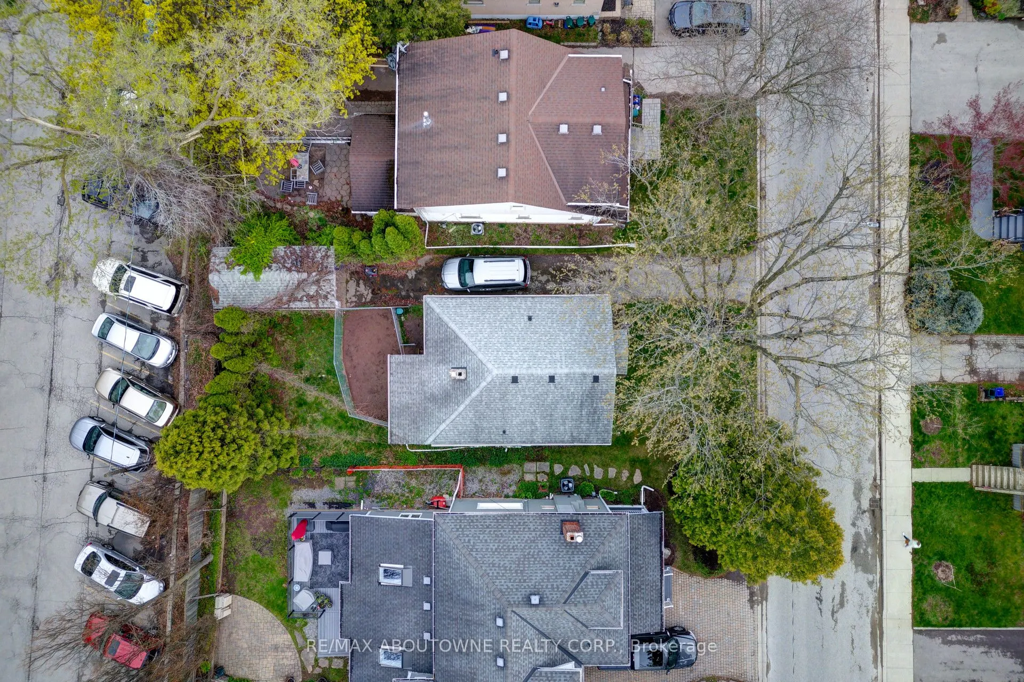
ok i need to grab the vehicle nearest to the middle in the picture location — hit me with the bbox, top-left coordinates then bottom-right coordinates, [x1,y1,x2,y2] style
[441,252,532,293]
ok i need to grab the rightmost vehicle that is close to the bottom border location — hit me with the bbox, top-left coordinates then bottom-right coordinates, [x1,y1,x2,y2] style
[627,626,697,673]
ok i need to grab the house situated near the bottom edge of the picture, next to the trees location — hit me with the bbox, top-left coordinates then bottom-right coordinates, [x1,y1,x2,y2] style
[337,486,673,682]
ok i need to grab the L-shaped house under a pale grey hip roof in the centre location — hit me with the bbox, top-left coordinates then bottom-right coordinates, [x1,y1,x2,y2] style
[386,292,628,452]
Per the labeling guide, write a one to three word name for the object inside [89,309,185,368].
car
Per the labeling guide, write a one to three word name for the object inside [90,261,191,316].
car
